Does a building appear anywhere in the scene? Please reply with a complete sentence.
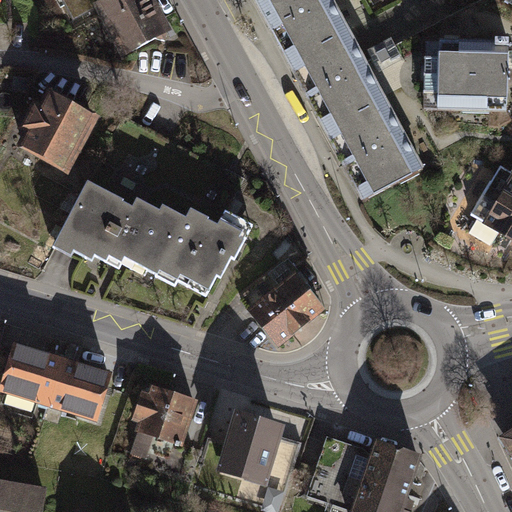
Yes, you can see a building in this photo.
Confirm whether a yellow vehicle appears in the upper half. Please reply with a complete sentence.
Yes, there is a yellow vehicle in the upper half.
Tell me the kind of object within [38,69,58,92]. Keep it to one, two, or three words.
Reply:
car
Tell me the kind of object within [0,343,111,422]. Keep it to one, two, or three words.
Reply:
house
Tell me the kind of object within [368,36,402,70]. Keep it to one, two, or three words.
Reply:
building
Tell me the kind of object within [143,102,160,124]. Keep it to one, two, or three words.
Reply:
vehicle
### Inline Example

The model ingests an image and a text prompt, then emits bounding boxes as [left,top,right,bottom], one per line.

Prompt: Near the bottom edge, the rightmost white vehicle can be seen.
[494,467,511,490]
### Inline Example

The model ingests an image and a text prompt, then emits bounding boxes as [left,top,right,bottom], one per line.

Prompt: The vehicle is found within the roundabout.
[410,301,432,316]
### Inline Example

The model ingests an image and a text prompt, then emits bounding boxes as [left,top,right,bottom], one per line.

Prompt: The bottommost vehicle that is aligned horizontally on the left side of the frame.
[84,351,105,364]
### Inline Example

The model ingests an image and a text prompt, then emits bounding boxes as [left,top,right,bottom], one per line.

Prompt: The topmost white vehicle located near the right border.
[476,308,496,321]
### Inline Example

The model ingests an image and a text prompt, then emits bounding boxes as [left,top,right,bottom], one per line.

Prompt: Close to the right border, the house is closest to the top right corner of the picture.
[424,36,510,114]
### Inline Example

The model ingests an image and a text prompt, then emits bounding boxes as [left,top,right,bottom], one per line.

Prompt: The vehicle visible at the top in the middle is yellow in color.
[285,89,308,124]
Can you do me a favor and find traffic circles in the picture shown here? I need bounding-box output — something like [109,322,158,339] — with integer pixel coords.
[326,290,468,431]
